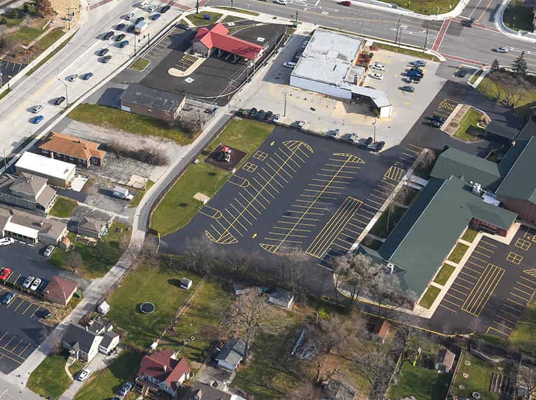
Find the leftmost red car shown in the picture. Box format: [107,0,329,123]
[0,267,12,279]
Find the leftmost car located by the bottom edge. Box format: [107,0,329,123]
[78,368,90,382]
